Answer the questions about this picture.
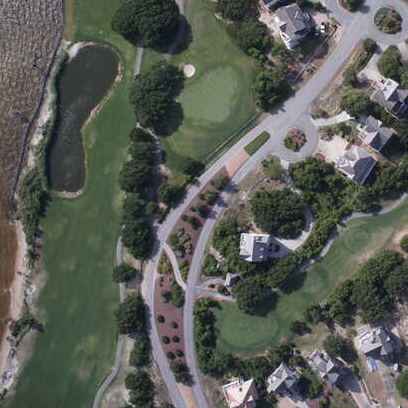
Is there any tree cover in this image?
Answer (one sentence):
Yes, there is tree cover in the image.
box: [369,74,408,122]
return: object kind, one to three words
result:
house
